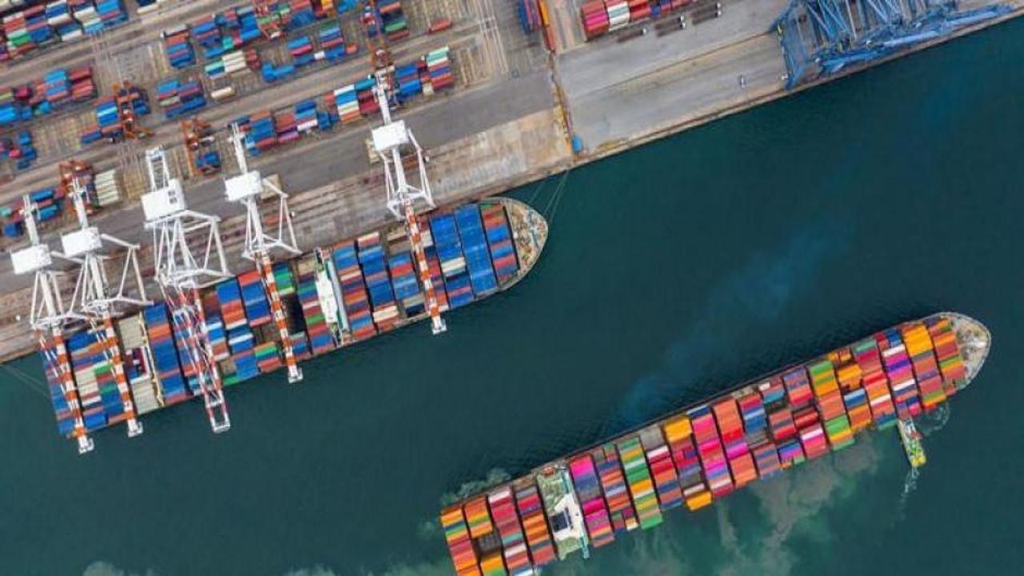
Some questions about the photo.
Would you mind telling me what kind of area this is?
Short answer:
port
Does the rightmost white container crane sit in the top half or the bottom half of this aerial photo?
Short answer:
top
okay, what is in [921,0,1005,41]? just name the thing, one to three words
container crane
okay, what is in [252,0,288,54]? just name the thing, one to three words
container crane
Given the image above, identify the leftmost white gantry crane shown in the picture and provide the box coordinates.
[14,193,103,450]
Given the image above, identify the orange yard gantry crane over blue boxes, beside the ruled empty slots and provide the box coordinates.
[110,86,156,146]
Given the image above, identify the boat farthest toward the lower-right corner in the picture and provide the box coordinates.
[897,416,927,468]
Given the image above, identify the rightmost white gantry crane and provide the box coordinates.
[375,69,443,331]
